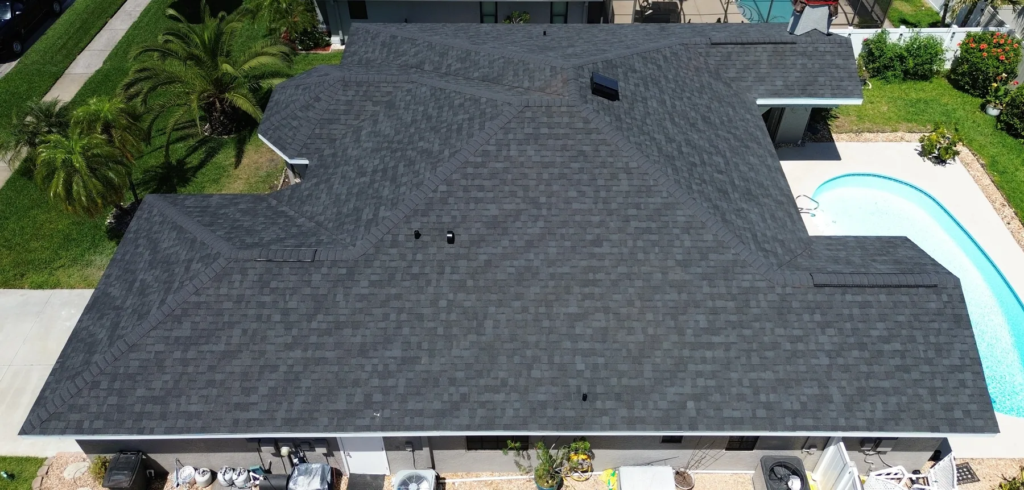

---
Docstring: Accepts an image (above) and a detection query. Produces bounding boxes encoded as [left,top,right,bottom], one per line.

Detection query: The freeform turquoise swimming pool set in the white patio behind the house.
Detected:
[809,171,1024,420]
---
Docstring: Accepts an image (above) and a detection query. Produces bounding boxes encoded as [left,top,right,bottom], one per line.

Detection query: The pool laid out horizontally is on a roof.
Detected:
[735,0,797,22]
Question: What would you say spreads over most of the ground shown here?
buildings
